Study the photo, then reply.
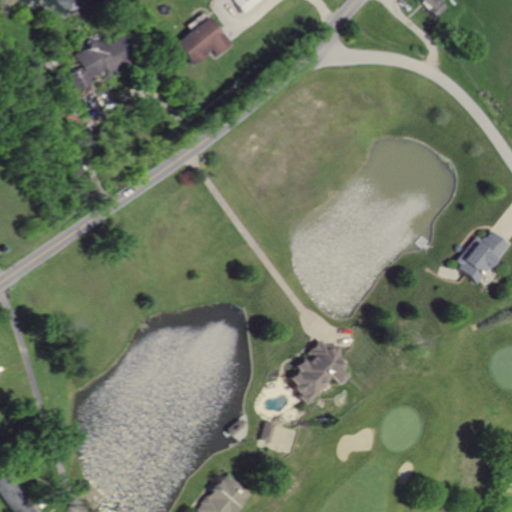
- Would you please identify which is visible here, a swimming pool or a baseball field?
swimming pool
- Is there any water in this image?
Yes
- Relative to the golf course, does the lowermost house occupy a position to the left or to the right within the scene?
on its left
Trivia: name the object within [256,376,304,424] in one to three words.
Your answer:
swimming pool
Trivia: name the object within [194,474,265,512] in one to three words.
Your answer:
house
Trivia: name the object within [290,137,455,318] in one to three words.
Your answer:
pond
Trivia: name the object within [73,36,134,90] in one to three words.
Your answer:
house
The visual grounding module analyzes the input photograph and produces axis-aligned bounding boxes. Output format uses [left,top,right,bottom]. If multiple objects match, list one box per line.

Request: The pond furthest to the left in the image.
[72,303,250,512]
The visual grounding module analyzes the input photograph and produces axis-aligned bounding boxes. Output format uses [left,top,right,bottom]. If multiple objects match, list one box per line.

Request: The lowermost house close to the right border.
[456,232,508,280]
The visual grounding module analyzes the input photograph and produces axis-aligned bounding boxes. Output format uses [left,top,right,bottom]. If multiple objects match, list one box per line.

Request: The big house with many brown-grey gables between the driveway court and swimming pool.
[286,343,350,400]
